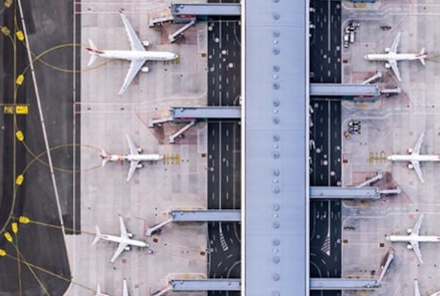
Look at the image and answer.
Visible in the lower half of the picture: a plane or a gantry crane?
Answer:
plane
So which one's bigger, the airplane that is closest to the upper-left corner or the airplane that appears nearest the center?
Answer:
the airplane that is closest to the upper-left corner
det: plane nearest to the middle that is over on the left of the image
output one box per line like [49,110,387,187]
[101,132,163,184]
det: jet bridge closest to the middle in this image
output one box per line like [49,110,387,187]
[168,120,196,144]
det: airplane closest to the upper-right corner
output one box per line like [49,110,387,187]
[364,28,429,81]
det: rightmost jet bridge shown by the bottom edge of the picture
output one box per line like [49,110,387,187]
[377,251,394,284]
